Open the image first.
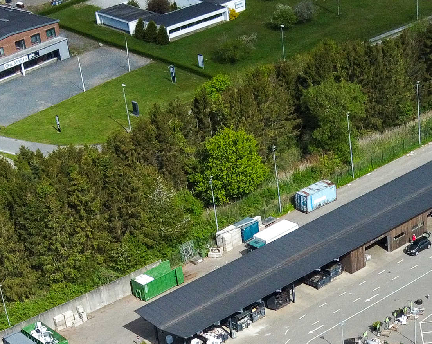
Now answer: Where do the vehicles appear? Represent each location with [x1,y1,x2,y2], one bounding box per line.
[405,230,432,255]
[245,219,306,256]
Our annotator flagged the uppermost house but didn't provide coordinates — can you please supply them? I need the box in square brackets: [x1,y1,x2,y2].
[96,0,247,42]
